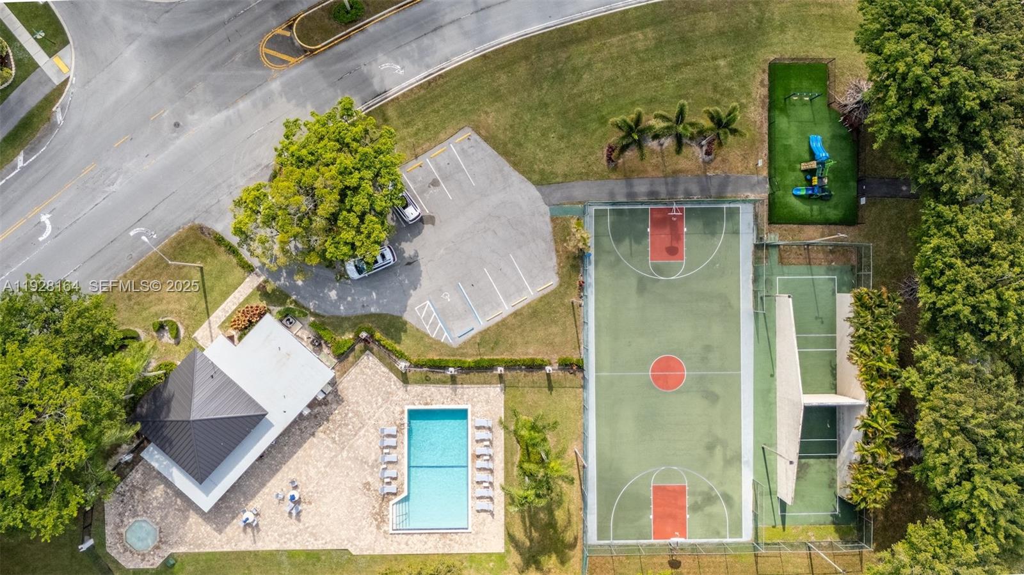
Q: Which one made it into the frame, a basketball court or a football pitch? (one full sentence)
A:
The one in the frame is a basketball court.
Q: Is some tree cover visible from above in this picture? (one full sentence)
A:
Yes, some tree cover is visible.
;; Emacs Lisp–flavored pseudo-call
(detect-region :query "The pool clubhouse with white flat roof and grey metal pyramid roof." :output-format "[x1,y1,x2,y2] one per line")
[130,313,335,511]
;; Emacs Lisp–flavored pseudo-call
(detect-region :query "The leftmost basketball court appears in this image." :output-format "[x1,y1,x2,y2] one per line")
[587,202,754,545]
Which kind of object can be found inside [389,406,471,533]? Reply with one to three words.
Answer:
swimming pool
